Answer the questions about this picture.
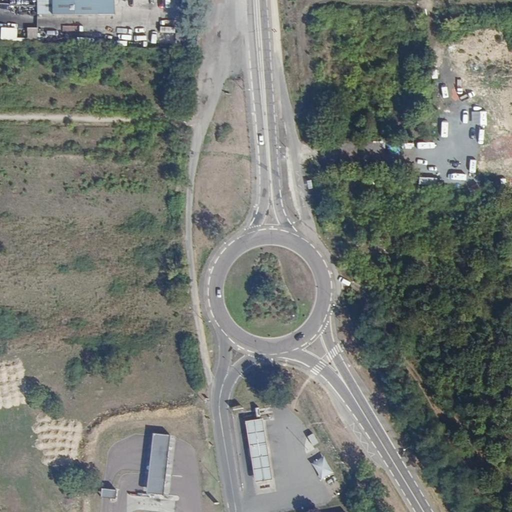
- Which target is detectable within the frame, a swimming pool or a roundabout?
roundabout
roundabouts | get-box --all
[208,228,333,354]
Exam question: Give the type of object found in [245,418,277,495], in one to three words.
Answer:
building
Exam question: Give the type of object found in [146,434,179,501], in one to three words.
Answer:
building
